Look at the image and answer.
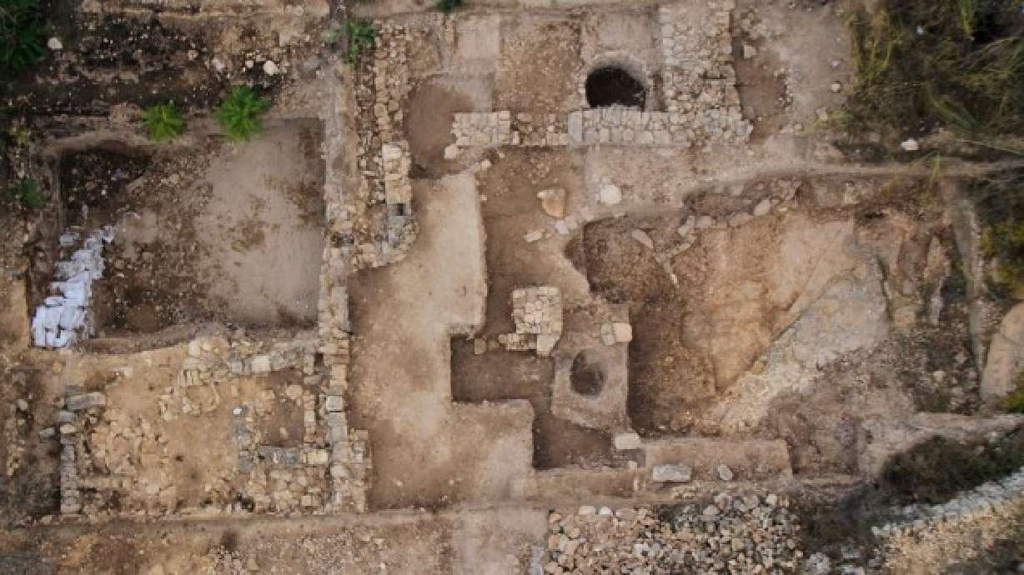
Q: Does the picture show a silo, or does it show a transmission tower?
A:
silo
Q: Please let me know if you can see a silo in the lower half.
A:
No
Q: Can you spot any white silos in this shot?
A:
No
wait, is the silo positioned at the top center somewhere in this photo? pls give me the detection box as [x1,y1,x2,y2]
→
[583,66,641,111]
